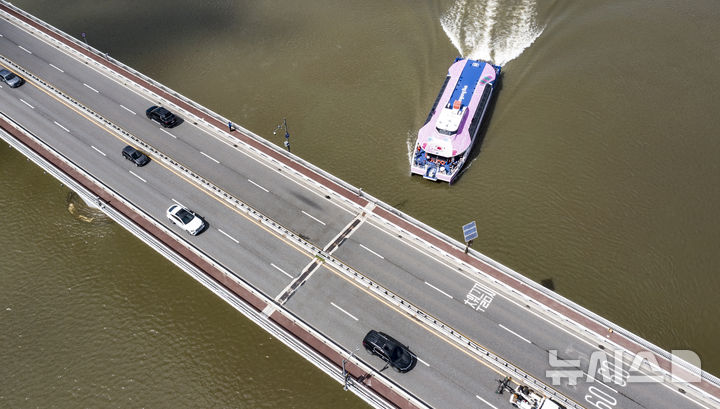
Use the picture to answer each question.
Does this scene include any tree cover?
No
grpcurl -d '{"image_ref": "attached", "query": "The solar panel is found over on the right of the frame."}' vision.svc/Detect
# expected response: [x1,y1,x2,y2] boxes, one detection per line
[463,220,477,252]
